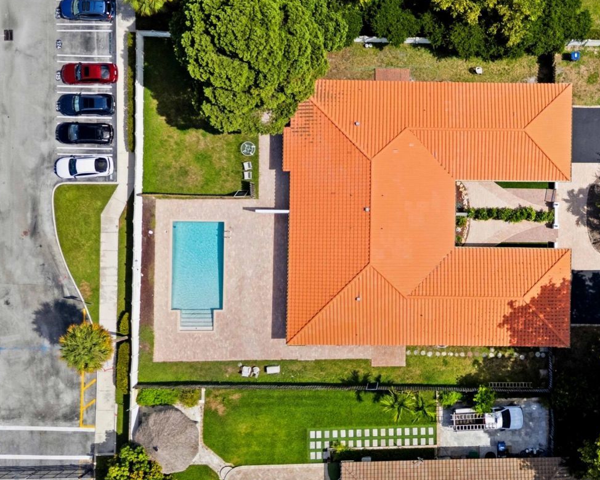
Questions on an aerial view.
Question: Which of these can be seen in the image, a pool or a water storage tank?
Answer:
pool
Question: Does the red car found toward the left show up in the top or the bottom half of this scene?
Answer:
top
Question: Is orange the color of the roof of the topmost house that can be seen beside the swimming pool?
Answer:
Yes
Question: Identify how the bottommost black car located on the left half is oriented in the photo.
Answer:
from side to side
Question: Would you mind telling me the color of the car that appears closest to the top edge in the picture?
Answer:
blue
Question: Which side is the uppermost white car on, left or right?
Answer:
left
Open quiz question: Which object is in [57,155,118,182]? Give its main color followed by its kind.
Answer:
white car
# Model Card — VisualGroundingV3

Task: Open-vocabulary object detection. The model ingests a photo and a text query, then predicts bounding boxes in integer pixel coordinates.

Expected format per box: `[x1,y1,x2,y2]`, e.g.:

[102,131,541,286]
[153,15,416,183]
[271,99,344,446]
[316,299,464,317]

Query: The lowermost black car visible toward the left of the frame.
[58,120,117,147]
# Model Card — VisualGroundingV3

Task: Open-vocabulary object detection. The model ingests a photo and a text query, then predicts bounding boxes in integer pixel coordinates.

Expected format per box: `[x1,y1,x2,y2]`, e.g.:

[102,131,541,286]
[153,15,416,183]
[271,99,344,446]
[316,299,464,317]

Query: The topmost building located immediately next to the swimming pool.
[254,79,572,347]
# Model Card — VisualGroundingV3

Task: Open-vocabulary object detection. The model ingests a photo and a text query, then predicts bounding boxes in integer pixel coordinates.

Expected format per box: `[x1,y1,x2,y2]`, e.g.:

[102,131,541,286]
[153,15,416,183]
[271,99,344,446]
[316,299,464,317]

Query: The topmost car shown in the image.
[59,0,118,24]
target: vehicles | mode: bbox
[58,91,118,118]
[62,60,121,87]
[451,405,523,436]
[59,0,118,24]
[58,120,117,147]
[57,155,118,182]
